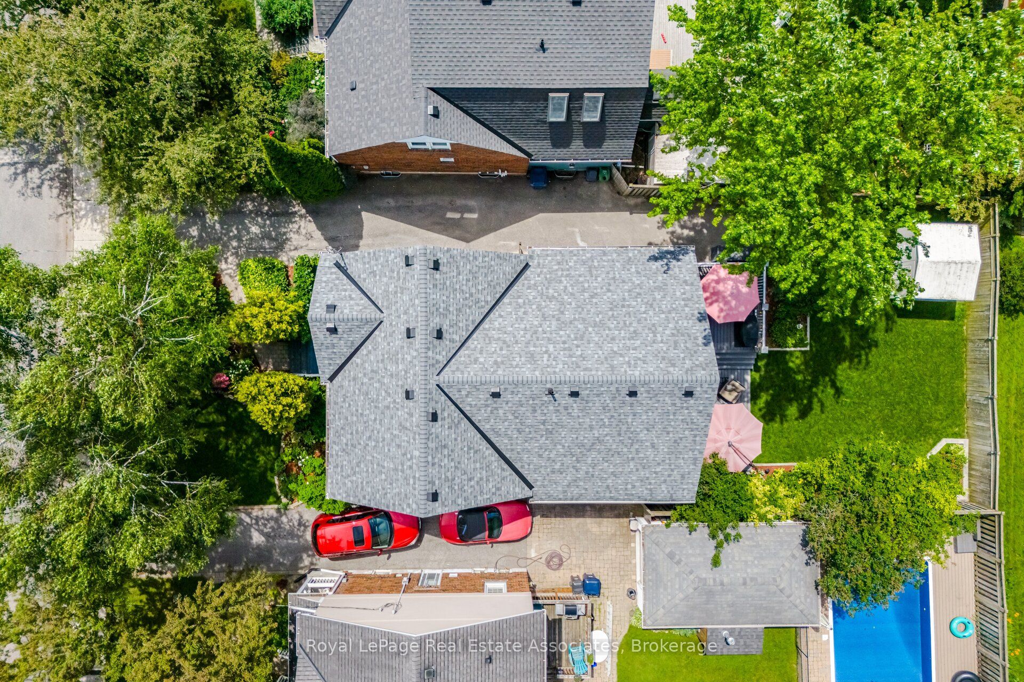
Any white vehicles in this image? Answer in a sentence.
No, no white vehicle is visible in the view.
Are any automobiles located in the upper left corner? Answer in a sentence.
No, there is no automobile in the upper left corner.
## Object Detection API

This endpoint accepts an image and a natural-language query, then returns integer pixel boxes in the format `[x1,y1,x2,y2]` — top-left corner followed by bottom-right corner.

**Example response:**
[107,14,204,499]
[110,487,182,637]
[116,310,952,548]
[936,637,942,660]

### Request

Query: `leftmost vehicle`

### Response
[310,508,421,558]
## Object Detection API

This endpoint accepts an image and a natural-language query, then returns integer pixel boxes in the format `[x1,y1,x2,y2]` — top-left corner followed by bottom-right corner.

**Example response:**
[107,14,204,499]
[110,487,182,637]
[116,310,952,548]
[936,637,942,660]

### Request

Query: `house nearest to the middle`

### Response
[297,242,716,518]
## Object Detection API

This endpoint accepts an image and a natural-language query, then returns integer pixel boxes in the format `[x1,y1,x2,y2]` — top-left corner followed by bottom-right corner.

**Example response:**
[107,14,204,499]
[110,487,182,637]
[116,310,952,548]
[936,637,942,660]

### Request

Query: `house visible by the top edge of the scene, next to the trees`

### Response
[313,0,654,183]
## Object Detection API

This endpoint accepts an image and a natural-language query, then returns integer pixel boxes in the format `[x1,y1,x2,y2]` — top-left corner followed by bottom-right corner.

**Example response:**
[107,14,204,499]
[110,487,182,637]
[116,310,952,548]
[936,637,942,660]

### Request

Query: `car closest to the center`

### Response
[440,502,532,550]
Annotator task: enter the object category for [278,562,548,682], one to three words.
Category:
house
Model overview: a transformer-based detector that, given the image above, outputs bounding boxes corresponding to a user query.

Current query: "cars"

[310,508,421,558]
[440,502,532,550]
